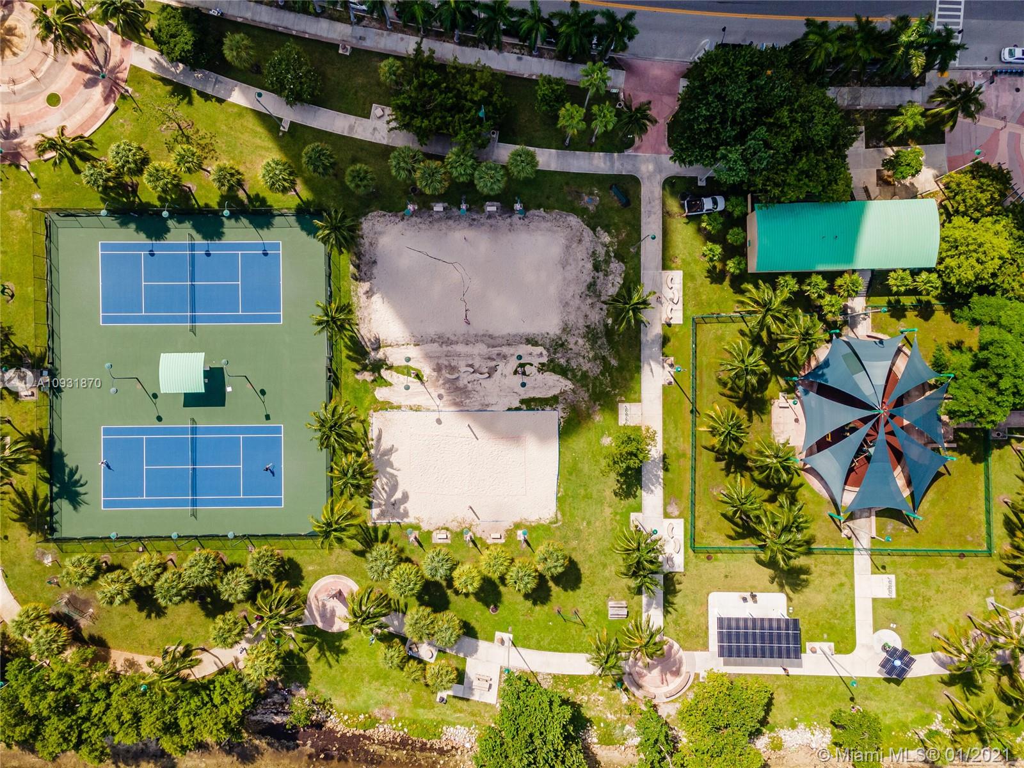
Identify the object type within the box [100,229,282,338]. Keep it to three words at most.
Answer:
tennis court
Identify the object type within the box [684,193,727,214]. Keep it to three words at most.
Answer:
truck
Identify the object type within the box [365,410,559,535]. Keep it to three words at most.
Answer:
sports court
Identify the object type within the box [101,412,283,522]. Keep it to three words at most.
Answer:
tennis court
